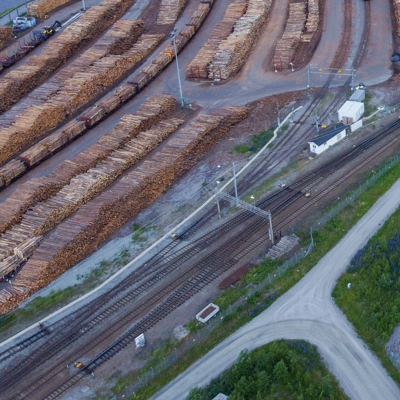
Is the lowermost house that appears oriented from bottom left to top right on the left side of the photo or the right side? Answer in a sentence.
The lowermost house that appears oriented from bottom left to top right is on the right side of the image.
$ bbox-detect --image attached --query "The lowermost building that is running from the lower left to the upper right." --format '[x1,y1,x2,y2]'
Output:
[307,122,352,158]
